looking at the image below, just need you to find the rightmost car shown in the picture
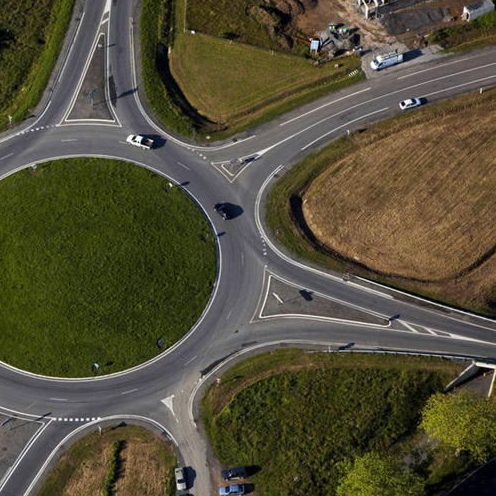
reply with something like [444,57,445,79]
[398,97,422,110]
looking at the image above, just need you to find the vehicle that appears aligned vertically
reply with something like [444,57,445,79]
[175,467,187,492]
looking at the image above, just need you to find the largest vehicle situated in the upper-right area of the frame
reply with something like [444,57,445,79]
[372,50,405,71]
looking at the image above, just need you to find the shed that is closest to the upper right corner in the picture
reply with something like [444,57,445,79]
[462,2,494,23]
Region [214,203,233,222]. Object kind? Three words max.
car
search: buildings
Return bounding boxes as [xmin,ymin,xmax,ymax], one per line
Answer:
[462,2,494,23]
[345,0,430,22]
